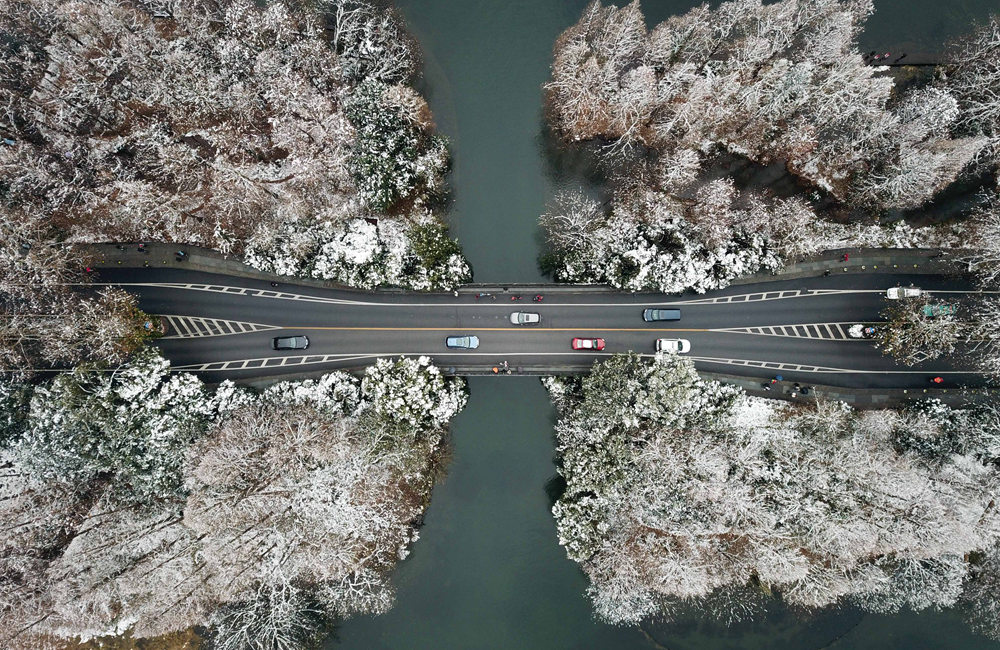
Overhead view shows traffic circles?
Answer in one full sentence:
No, the frame has no traffic circle in it.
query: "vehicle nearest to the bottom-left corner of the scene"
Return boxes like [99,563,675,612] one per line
[273,335,311,350]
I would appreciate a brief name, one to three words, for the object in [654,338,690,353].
car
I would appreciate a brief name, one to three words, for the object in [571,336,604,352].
car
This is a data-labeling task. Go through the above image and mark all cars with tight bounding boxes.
[883,286,923,301]
[654,338,690,353]
[642,305,683,323]
[446,334,480,350]
[571,336,604,352]
[510,310,540,326]
[273,335,311,350]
